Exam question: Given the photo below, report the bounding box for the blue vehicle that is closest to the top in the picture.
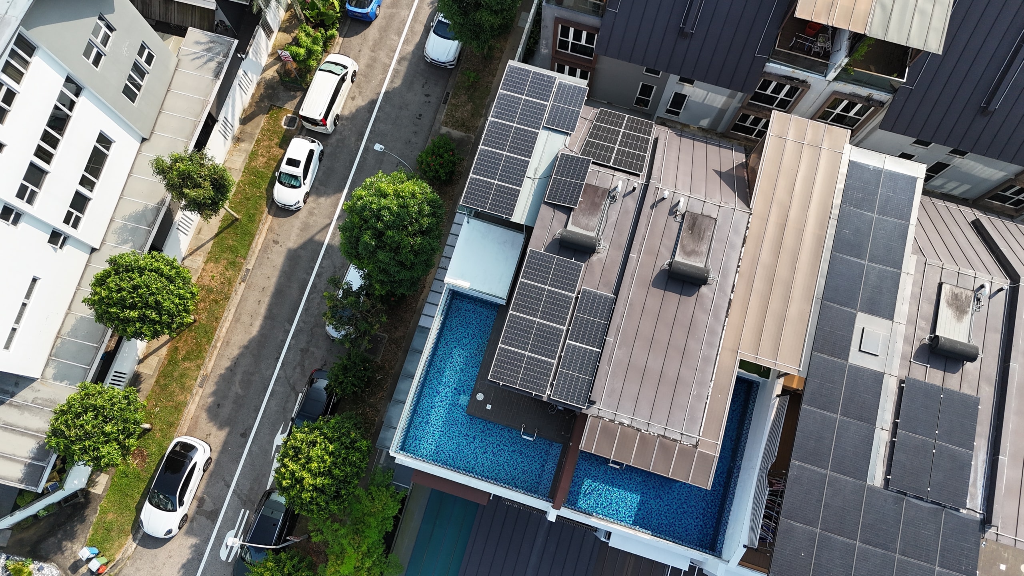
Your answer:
[345,0,384,28]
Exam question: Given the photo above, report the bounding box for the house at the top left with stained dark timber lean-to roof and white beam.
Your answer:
[130,0,243,59]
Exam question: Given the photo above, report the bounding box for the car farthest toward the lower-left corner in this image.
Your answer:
[143,436,211,539]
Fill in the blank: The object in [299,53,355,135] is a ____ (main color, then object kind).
white car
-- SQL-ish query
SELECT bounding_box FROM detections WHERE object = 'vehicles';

[272,132,325,211]
[345,0,384,28]
[237,483,296,576]
[299,53,355,135]
[425,28,463,72]
[294,369,344,423]
[143,436,211,539]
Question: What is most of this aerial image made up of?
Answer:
buildings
